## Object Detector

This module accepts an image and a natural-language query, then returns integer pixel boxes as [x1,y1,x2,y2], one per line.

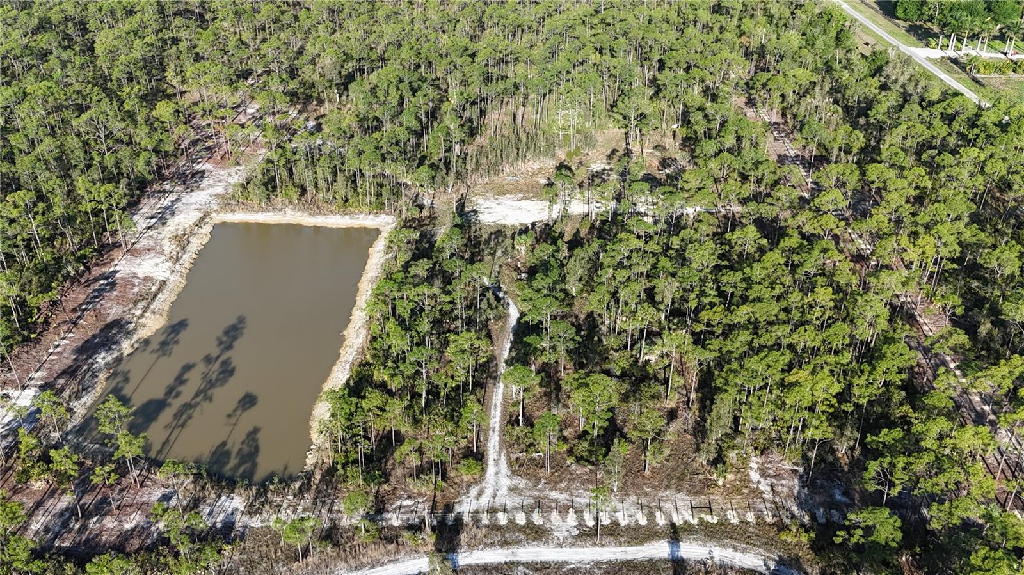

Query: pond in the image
[70,222,381,477]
